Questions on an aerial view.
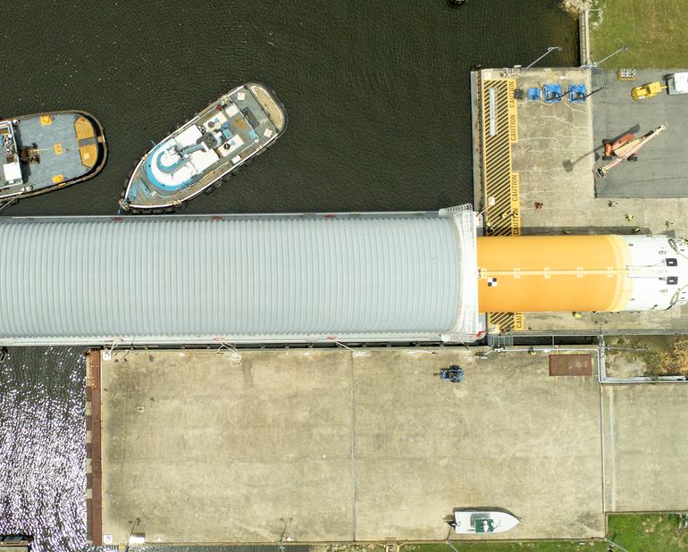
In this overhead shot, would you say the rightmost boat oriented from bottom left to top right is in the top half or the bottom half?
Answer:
top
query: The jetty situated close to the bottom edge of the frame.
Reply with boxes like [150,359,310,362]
[86,341,605,545]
